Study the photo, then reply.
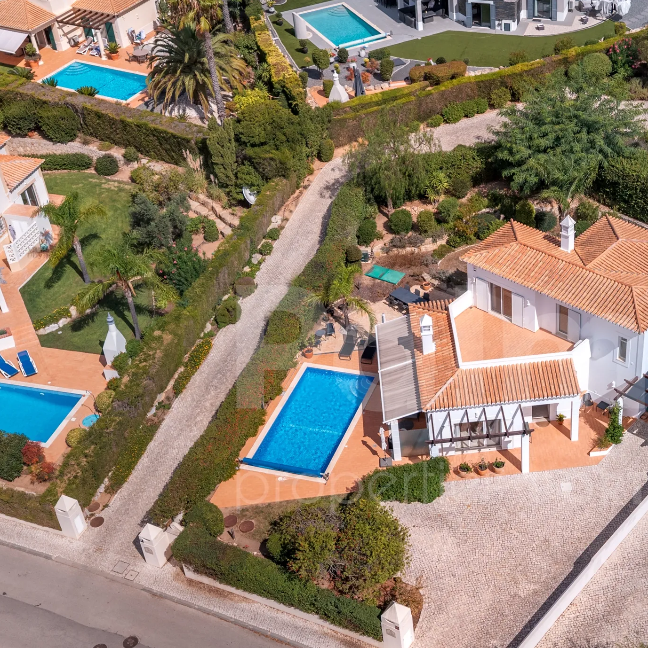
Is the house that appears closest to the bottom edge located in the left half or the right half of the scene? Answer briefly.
right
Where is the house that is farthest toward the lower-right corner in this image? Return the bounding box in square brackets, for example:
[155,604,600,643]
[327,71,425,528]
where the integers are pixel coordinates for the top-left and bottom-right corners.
[375,206,648,474]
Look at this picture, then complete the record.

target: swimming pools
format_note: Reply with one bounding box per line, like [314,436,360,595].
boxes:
[306,1,392,52]
[36,59,159,102]
[0,379,91,447]
[241,362,379,483]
